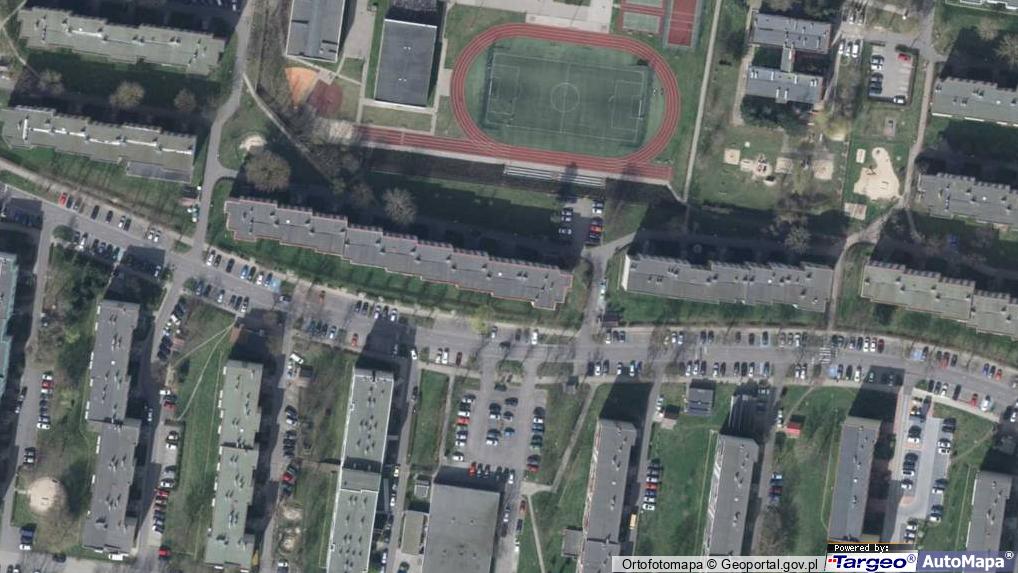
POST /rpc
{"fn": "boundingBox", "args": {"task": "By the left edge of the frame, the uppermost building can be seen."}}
[17,5,226,76]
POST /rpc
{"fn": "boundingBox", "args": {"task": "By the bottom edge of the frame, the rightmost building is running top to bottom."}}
[961,472,1013,573]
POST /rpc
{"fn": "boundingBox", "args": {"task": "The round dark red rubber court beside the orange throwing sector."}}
[308,79,342,112]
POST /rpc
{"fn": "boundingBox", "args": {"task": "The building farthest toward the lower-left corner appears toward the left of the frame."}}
[84,421,141,554]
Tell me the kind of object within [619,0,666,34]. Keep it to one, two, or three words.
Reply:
basketball court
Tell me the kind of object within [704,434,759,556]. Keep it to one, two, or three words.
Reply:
building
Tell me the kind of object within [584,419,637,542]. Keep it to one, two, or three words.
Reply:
building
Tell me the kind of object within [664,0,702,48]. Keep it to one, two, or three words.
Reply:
sports court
